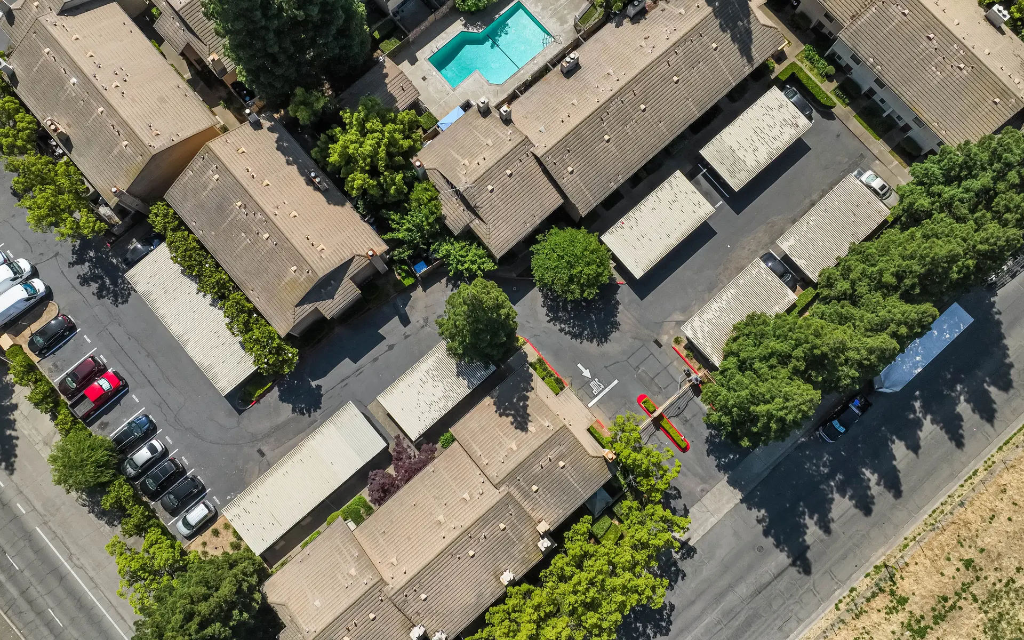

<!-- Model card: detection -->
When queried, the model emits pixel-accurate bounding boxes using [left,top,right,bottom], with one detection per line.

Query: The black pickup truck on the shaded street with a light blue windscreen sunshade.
[819,393,877,446]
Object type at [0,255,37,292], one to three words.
van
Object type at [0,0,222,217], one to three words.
building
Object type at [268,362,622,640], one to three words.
building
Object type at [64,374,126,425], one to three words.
truck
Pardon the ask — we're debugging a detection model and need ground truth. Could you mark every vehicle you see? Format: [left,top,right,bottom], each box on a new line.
[117,435,170,483]
[64,374,126,425]
[55,354,107,401]
[175,496,219,535]
[24,312,75,357]
[767,82,813,120]
[121,230,168,270]
[156,472,208,519]
[759,249,804,296]
[0,273,53,330]
[107,414,157,464]
[136,455,188,502]
[0,255,37,292]
[819,393,877,446]
[855,166,903,215]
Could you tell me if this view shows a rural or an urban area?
urban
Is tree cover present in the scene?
Yes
